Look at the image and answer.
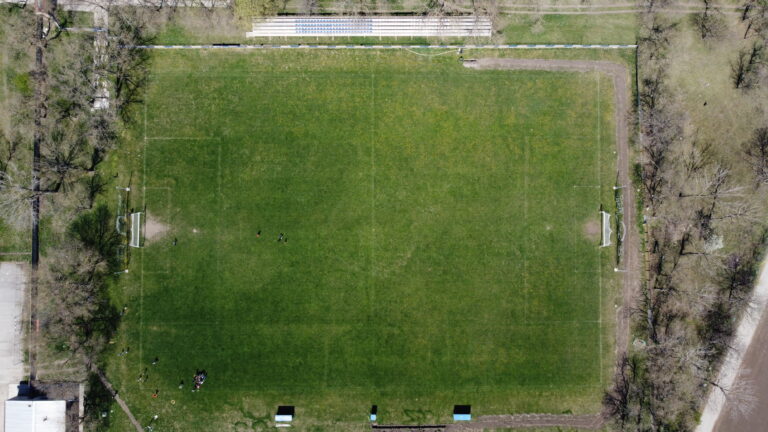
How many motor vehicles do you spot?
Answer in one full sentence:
I count no motor vehicles.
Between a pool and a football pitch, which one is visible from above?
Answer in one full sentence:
This aerial view contains a football pitch.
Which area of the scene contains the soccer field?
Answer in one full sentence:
You can find the soccer field in the center area of the picture.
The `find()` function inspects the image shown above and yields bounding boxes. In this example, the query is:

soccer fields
[140,52,603,391]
